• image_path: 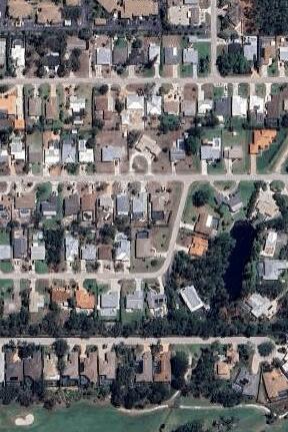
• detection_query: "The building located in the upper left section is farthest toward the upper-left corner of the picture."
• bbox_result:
[7,0,32,19]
